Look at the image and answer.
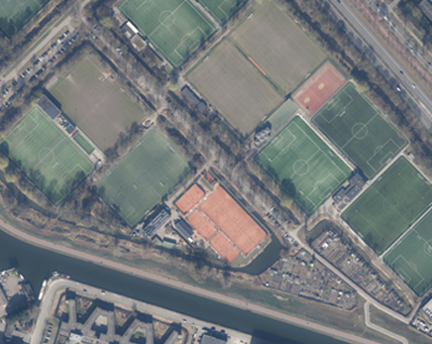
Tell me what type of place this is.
sports ground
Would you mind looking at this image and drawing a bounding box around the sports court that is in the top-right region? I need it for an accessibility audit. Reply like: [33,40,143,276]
[293,62,346,115]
